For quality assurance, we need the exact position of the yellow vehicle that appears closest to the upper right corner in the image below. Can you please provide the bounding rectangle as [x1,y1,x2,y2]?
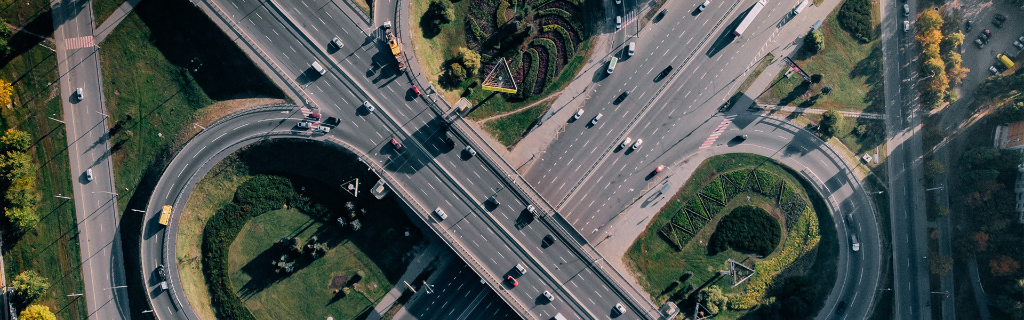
[996,51,1015,68]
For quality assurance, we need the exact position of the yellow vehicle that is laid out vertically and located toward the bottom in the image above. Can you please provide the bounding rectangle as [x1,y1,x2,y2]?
[158,205,170,226]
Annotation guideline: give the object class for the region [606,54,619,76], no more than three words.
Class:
vehicle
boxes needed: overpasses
[192,0,666,320]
